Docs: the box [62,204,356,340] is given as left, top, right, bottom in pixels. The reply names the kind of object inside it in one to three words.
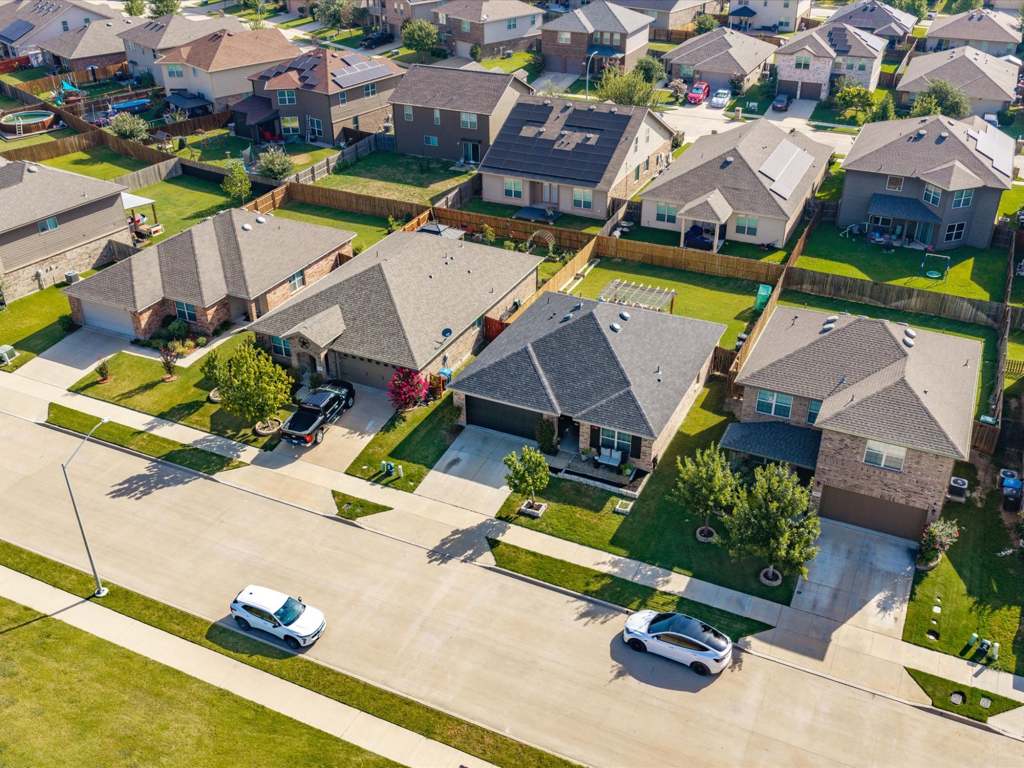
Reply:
house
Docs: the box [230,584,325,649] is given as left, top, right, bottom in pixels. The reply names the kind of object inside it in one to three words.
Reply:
car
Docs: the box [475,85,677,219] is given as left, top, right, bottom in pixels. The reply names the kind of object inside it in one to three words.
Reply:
house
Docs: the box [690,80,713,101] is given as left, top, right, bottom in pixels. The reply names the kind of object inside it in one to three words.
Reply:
car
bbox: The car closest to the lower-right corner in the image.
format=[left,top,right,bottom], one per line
[622,608,733,675]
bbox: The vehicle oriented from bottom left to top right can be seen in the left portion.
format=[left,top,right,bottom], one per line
[278,380,361,446]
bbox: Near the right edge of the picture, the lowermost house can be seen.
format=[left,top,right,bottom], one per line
[720,302,985,542]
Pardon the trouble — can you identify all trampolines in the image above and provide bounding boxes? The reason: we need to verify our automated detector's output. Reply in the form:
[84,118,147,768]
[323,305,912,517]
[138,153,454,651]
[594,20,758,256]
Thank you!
[75,97,112,126]
[239,135,280,169]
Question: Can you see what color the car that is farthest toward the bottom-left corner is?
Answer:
white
